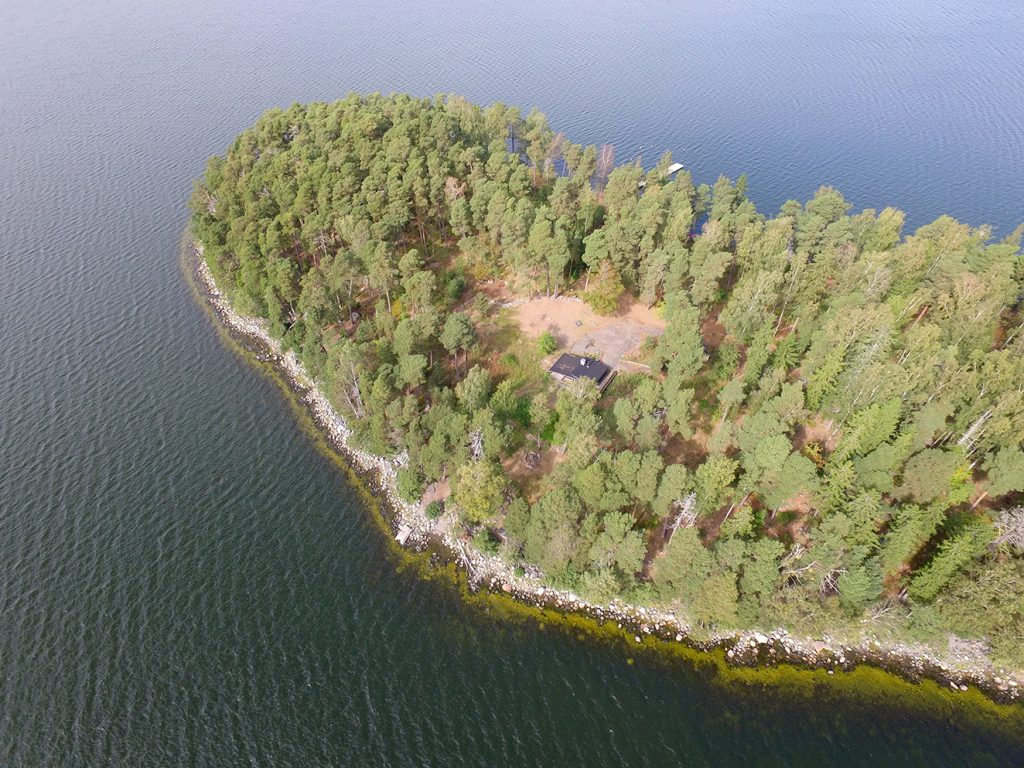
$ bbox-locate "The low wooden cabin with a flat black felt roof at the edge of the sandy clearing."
[552,352,618,400]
